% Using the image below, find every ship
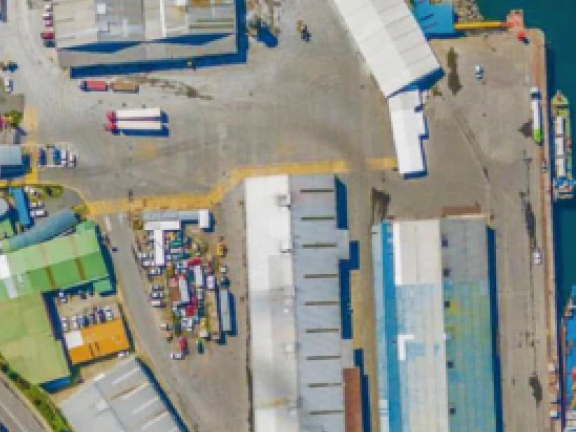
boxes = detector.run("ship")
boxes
[542,85,576,205]
[553,285,576,432]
